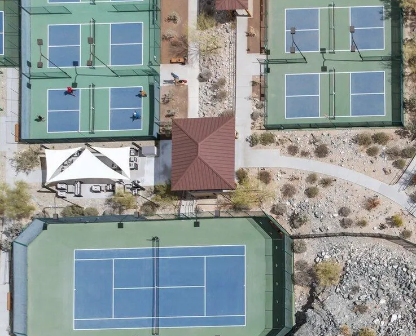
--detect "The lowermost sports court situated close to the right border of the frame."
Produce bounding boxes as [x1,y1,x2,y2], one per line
[266,61,402,130]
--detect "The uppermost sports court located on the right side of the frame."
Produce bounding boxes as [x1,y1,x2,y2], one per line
[267,0,401,62]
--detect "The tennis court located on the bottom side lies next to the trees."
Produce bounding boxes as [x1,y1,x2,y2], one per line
[26,214,295,336]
